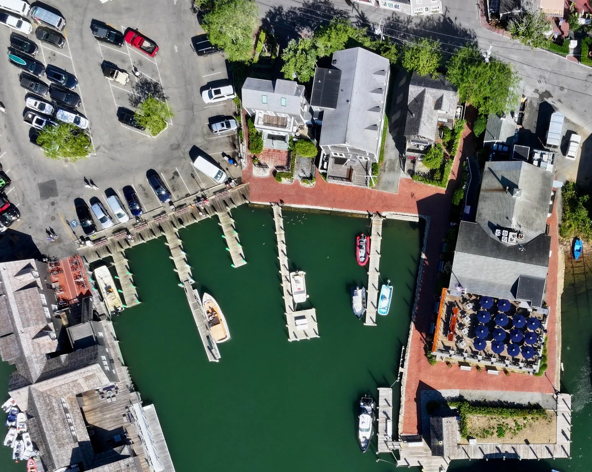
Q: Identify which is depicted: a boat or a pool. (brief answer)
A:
boat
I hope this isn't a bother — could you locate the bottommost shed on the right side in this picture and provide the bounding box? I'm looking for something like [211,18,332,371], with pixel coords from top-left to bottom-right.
[430,417,458,457]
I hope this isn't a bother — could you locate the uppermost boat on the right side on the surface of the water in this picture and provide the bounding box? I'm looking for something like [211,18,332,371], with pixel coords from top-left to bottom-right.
[355,231,369,266]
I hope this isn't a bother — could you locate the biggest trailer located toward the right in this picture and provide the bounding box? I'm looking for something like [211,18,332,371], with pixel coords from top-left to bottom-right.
[543,110,566,154]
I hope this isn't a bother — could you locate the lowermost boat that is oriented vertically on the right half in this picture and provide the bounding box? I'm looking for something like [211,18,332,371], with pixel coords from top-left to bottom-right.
[357,395,375,453]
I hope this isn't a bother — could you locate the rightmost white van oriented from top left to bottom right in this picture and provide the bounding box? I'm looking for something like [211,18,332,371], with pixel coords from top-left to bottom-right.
[190,151,228,185]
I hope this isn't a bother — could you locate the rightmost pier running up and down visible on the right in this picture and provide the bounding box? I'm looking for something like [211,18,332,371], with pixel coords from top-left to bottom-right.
[363,213,386,327]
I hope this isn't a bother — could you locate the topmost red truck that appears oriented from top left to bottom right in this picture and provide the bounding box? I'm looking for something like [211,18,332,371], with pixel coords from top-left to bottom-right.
[125,30,160,59]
